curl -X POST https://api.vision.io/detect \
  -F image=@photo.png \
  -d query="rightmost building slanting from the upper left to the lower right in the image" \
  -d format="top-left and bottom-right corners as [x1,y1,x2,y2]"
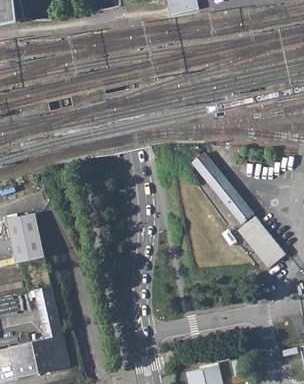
[238,216,288,268]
